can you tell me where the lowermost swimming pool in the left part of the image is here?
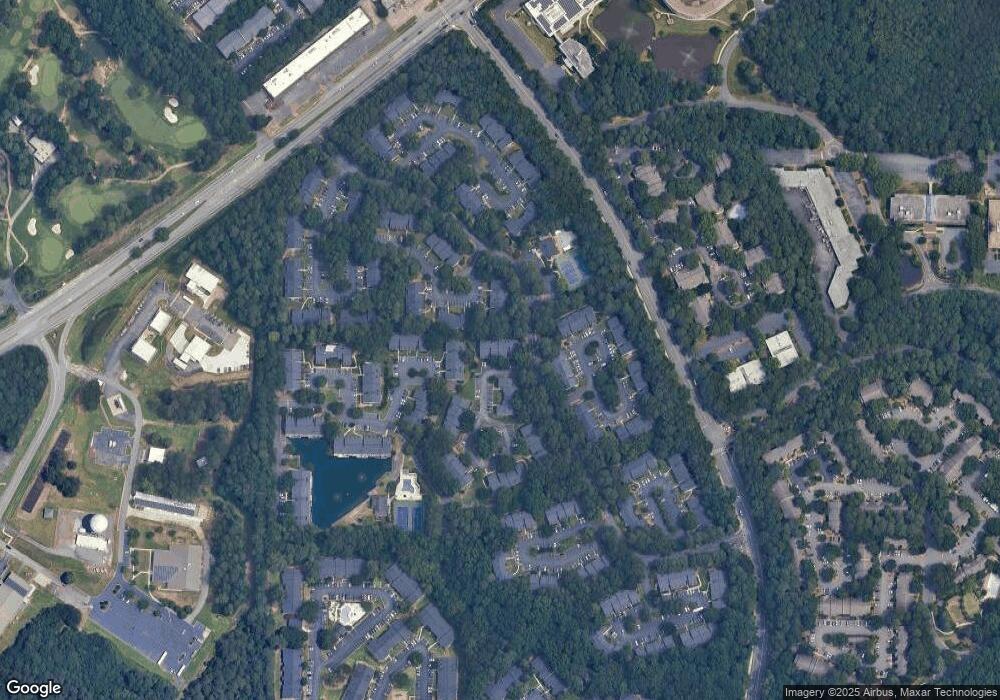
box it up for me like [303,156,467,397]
[328,599,368,628]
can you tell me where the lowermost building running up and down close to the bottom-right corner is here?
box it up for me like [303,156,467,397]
[895,626,908,678]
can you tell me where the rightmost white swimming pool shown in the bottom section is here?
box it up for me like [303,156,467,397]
[396,473,422,500]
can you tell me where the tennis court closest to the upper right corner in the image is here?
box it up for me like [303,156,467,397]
[556,252,587,288]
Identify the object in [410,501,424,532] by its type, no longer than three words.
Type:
tennis court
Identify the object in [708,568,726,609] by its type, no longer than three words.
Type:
building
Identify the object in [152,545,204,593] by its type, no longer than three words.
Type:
building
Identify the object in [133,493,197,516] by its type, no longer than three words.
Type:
shed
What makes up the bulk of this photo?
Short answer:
trees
